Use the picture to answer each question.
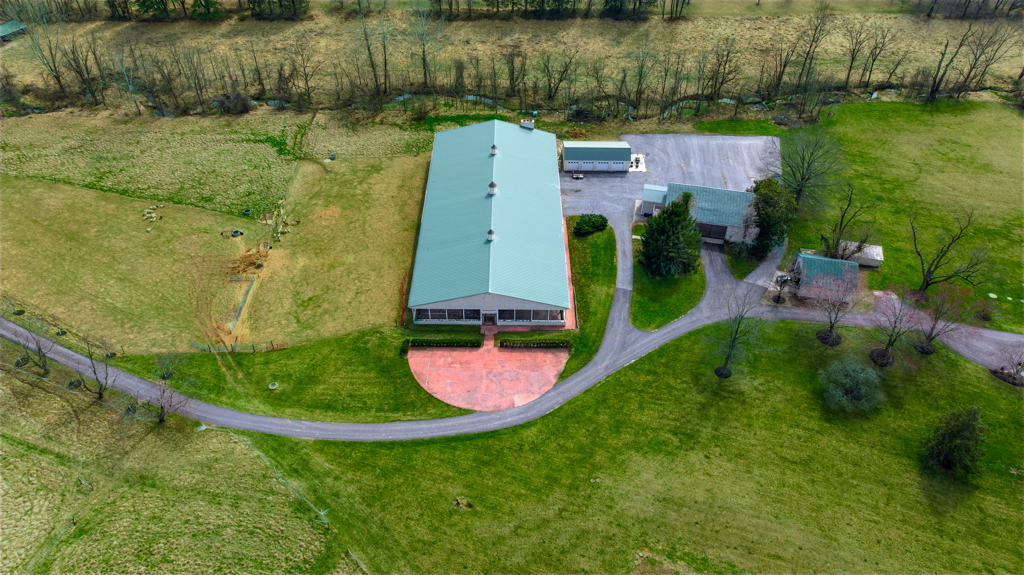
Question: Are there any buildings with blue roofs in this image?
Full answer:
Yes, there's a building with a blue roof here.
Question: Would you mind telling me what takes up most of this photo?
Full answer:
The scene is dominated by grass.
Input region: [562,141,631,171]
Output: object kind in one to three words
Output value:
building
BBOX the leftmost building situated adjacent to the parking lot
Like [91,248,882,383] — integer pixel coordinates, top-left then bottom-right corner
[408,115,569,325]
